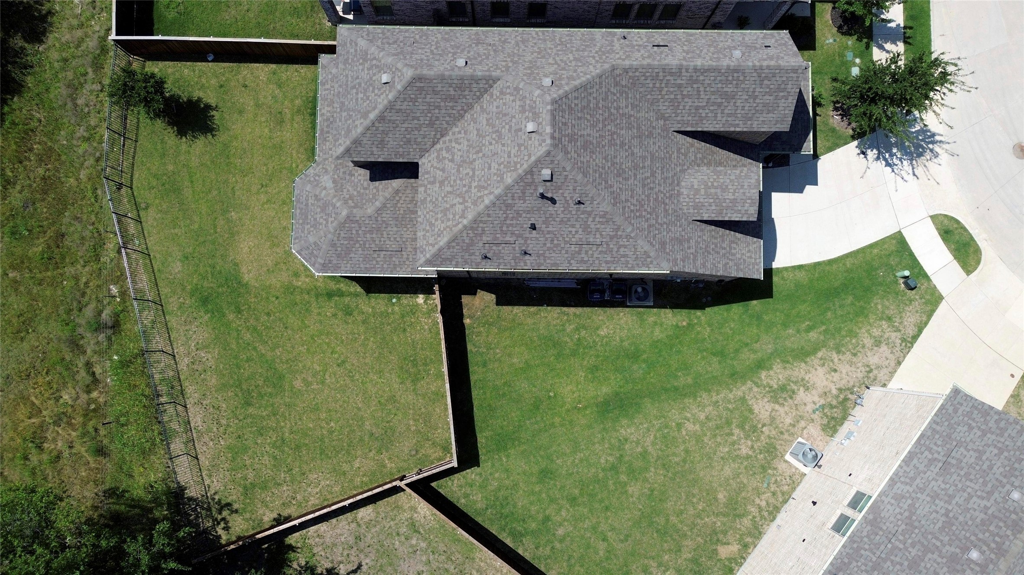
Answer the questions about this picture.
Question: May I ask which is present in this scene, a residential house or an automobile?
residential house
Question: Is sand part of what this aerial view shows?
No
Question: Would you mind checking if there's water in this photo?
No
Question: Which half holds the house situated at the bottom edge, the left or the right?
right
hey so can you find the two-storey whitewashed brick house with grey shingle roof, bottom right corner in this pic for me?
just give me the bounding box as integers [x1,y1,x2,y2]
[734,381,1024,575]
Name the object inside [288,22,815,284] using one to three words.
house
